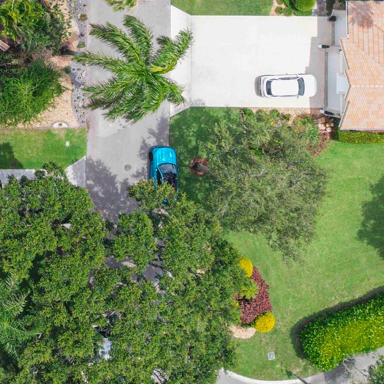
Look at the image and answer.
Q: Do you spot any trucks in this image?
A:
No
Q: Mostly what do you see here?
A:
trees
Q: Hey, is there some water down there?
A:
No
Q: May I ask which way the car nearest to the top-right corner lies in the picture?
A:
horizontally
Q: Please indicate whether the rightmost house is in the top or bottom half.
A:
top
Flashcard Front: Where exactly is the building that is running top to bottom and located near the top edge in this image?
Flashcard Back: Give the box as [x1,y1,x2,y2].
[323,0,384,130]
